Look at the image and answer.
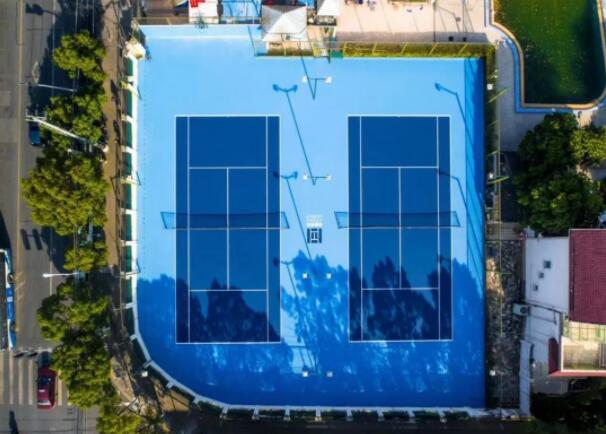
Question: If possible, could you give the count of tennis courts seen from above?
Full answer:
Altogether the scene contains 2 tennis courts.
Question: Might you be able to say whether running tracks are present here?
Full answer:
No, the frame has no running track in it.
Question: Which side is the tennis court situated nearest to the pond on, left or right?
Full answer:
You can find the tennis court situated nearest to the pond on the right side of the picture.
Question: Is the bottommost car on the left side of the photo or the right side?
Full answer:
The bottommost car sits on the left side.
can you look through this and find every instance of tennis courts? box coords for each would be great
[348,115,453,342]
[175,115,281,344]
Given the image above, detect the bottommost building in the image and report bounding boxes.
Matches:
[522,229,606,374]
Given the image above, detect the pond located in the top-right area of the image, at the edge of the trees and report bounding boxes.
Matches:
[485,0,606,112]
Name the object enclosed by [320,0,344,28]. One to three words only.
tent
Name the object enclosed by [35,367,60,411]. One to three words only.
car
